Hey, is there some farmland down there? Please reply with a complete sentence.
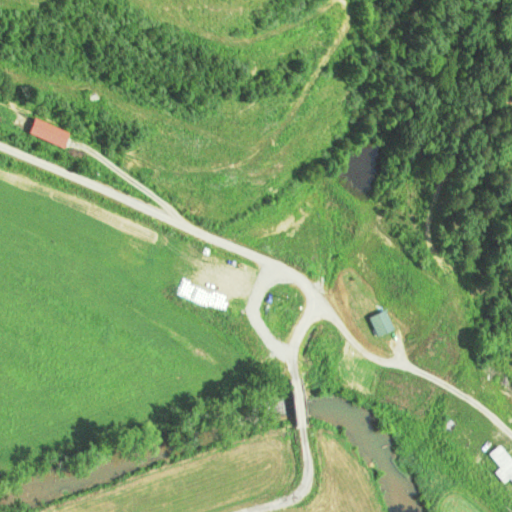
Yes, some farmland is visible.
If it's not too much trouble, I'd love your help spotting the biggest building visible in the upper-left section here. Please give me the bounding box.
[30,118,72,148]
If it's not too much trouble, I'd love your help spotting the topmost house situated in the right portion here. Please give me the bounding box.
[370,310,394,336]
